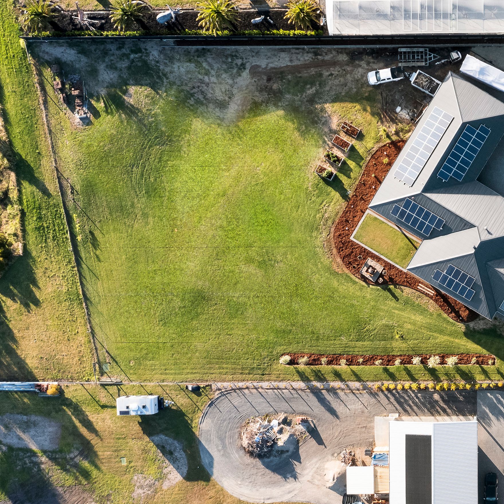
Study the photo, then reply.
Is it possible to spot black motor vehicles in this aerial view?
Yes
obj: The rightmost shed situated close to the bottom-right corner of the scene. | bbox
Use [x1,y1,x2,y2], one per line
[389,418,478,504]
